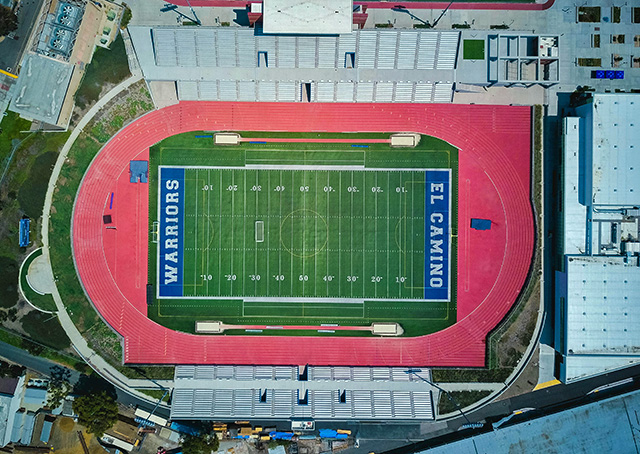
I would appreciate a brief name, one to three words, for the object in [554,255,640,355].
building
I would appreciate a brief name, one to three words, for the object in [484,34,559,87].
building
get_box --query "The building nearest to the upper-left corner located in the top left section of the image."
[8,52,85,128]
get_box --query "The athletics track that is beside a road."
[72,101,534,367]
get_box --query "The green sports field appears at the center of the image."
[148,131,461,338]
